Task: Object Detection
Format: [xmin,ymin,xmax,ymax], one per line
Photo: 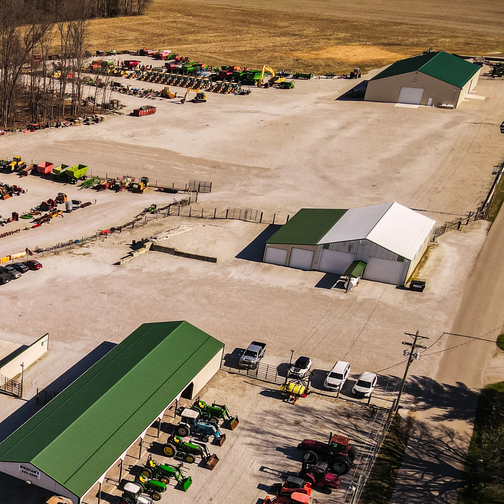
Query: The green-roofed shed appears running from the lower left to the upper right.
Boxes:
[0,318,226,504]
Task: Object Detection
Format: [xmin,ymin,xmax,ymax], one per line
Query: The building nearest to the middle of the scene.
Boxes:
[263,201,436,286]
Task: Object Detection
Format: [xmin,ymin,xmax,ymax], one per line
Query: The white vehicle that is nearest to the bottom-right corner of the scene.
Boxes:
[352,368,380,394]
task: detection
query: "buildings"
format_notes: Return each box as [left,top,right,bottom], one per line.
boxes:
[364,51,481,108]
[263,201,436,286]
[0,318,226,504]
